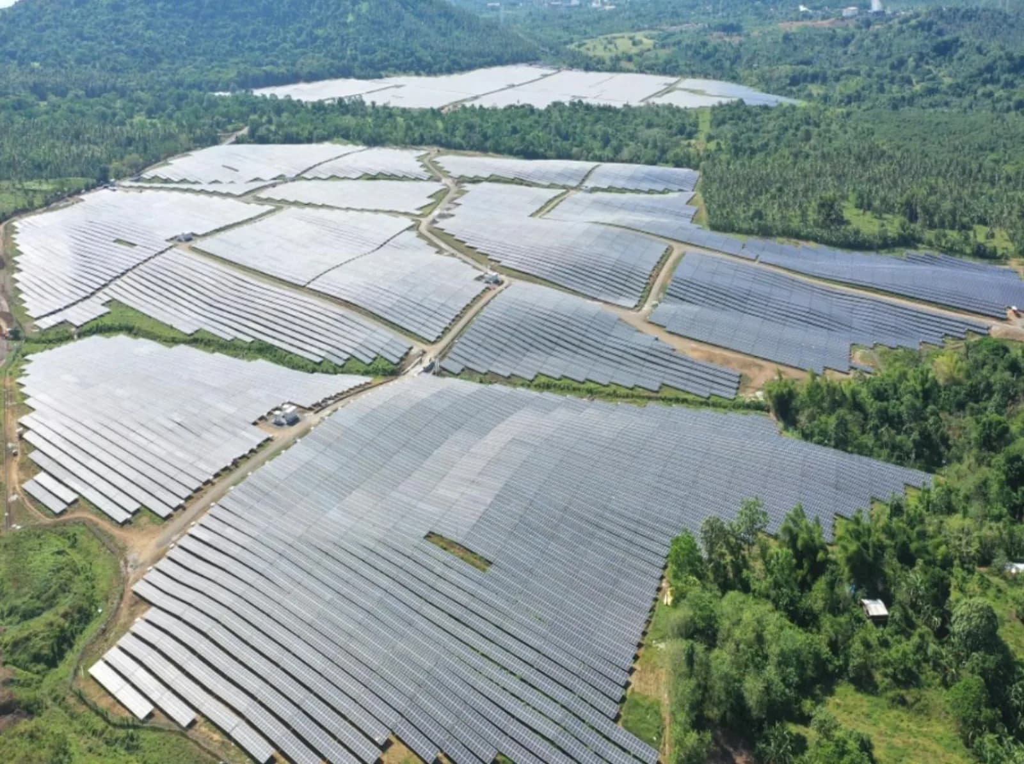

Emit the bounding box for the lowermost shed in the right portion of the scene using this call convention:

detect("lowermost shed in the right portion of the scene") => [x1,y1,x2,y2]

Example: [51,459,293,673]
[864,603,892,624]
